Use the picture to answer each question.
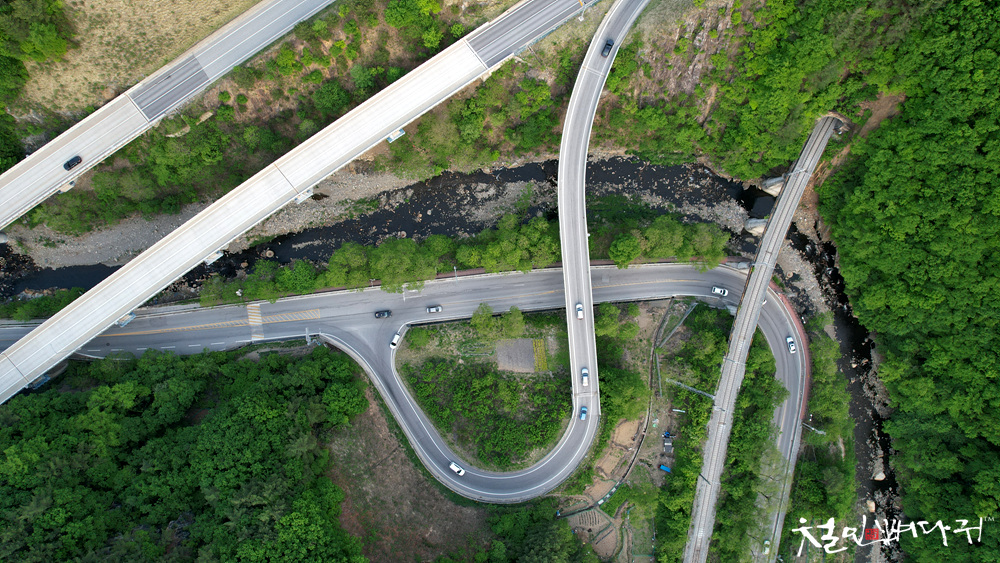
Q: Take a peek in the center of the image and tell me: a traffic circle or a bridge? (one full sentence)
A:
Visible in the center of the image is a bridge.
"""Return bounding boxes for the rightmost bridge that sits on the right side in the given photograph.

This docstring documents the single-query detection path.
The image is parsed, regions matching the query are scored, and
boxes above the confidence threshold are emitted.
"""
[712,123,838,405]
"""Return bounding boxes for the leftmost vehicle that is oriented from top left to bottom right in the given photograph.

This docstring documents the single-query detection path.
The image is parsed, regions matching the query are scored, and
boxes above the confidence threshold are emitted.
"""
[449,462,466,476]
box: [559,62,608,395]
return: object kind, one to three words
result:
bridge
